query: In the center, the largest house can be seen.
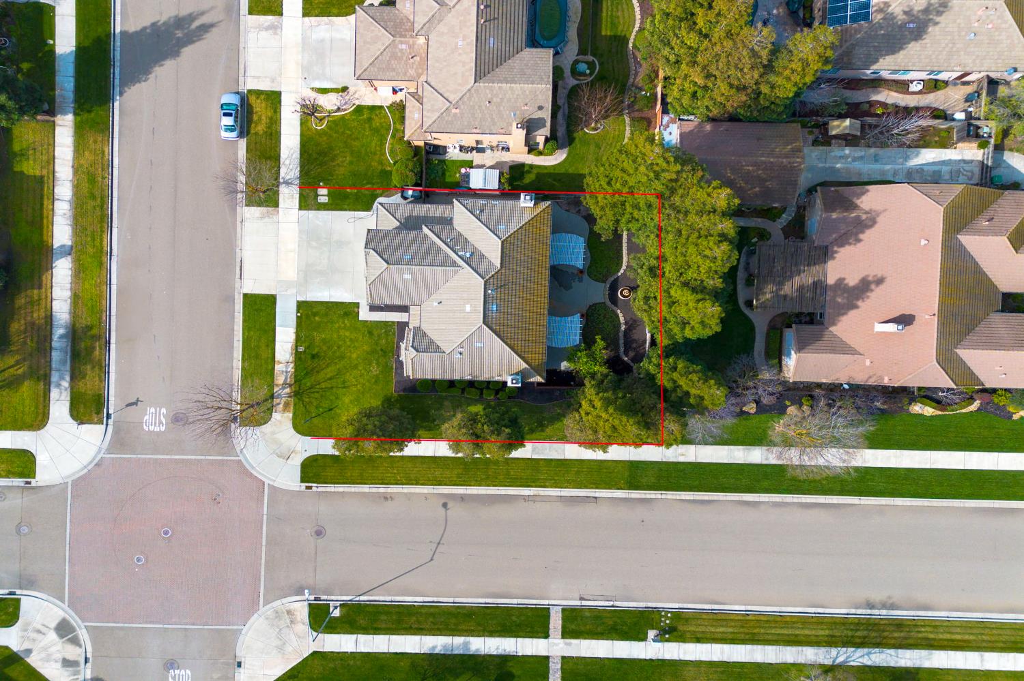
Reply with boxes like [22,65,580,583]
[364,184,552,386]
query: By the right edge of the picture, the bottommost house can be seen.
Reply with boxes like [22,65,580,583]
[782,182,1024,390]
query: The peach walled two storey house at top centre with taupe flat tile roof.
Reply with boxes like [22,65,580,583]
[354,0,554,159]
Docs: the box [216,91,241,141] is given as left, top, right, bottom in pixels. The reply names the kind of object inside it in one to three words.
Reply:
car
